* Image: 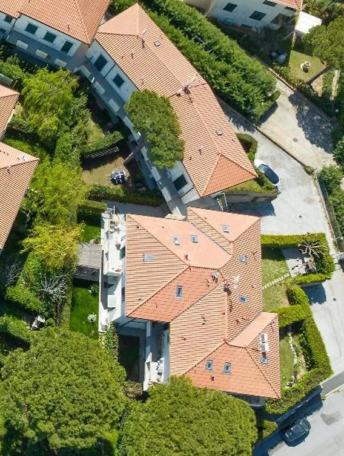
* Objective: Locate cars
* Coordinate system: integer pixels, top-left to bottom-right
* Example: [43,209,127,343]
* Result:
[252,159,285,192]
[276,419,313,446]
